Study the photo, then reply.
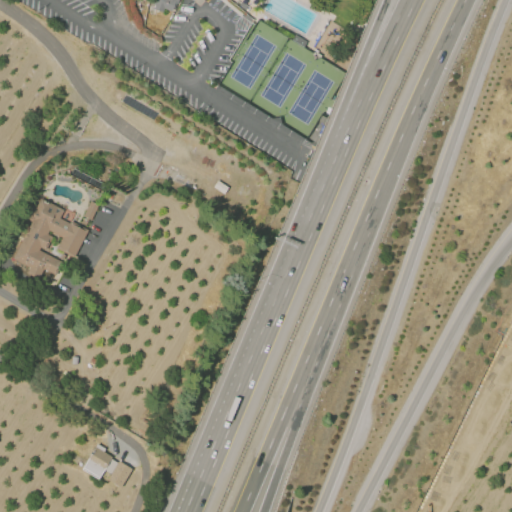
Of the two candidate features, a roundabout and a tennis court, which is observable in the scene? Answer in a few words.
tennis court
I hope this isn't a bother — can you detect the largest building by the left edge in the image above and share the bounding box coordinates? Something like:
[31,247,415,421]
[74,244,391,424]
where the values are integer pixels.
[10,198,89,279]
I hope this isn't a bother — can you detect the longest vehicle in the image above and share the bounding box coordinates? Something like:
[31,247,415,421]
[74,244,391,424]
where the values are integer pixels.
[224,394,242,428]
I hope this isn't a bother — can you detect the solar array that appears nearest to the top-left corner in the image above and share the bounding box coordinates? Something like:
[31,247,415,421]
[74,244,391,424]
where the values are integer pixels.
[123,95,158,119]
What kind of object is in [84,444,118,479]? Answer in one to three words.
house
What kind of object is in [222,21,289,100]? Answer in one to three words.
tennis court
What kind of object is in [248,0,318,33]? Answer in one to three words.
swimming pool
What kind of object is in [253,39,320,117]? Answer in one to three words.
tennis court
